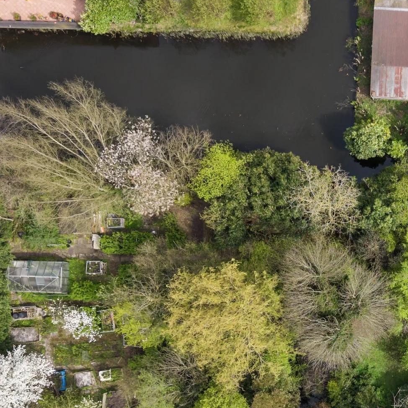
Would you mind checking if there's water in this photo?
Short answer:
Yes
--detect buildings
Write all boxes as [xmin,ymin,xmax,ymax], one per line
[0,261,67,292]
[369,0,408,104]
